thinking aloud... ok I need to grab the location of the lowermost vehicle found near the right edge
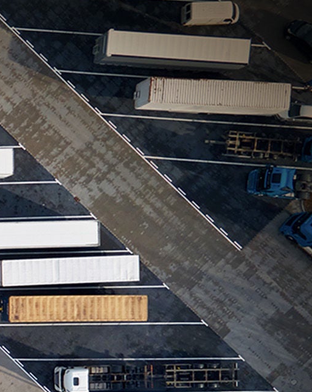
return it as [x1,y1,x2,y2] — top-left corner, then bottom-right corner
[274,211,312,261]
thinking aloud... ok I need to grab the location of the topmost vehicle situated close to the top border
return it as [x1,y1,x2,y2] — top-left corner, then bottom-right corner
[179,1,235,30]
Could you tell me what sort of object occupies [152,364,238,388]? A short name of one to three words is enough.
trailer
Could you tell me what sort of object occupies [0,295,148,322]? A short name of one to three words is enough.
shipping container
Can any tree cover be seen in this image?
No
